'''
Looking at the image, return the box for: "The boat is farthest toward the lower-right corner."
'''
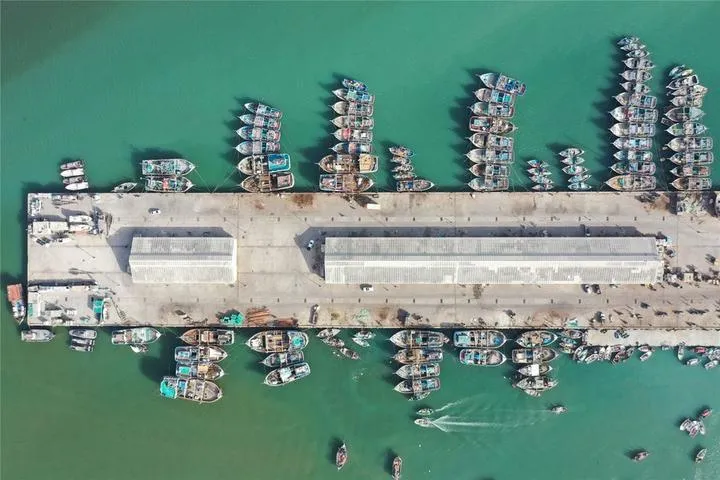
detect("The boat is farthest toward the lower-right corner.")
[695,448,707,462]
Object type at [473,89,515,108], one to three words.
boat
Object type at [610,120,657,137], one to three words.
boat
